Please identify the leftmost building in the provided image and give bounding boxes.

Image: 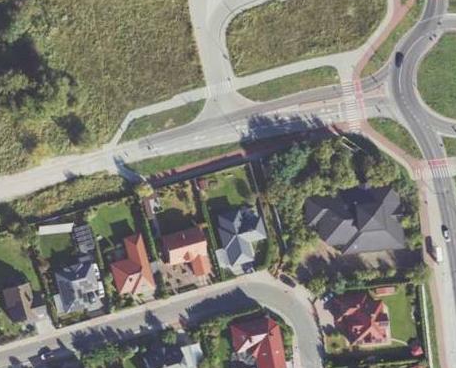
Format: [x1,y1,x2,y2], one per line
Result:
[2,282,50,323]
